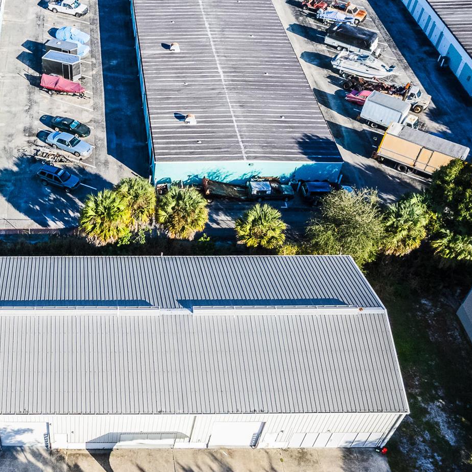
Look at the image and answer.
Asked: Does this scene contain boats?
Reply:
Yes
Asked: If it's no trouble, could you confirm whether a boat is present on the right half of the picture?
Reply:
Yes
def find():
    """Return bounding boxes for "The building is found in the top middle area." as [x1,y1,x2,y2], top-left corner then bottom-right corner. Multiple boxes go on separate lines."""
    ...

[130,0,346,185]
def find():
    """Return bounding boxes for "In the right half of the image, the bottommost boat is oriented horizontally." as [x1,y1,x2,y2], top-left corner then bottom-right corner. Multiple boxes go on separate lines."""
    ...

[326,50,398,83]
